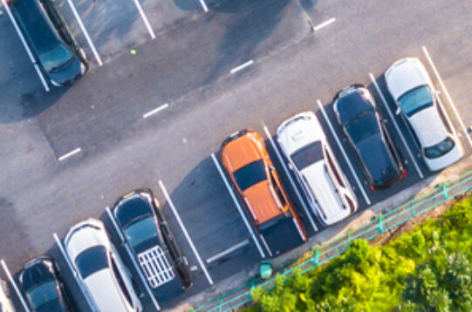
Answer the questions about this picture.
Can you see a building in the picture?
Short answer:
No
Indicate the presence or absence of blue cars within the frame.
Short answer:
Yes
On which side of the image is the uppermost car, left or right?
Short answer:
left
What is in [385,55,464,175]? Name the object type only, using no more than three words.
car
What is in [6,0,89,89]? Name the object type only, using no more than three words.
car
